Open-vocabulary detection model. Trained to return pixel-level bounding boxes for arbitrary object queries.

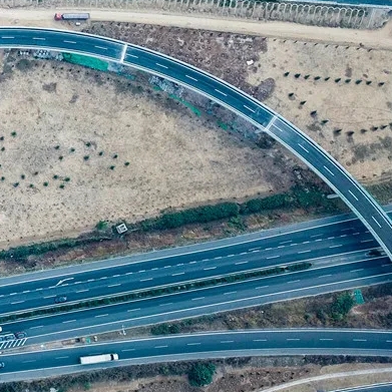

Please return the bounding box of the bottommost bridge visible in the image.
[0,26,392,262]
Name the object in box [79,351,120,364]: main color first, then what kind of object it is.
white vehicle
